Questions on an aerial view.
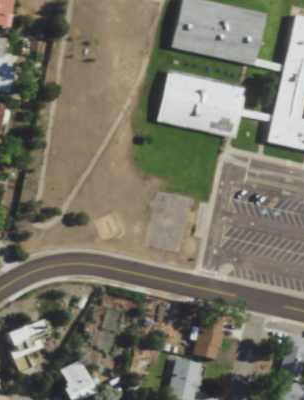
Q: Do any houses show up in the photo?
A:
Yes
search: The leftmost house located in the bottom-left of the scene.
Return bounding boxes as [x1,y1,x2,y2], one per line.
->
[8,320,48,372]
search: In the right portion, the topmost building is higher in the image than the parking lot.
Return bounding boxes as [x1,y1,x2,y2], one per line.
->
[172,0,268,66]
